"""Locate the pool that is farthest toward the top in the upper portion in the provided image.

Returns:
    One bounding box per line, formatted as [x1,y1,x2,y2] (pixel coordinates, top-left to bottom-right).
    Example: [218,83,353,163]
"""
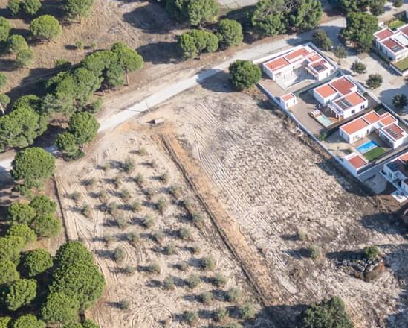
[313,112,335,127]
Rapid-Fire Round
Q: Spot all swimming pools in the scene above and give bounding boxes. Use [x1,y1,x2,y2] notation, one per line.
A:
[313,112,335,127]
[355,138,380,155]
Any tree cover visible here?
Yes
